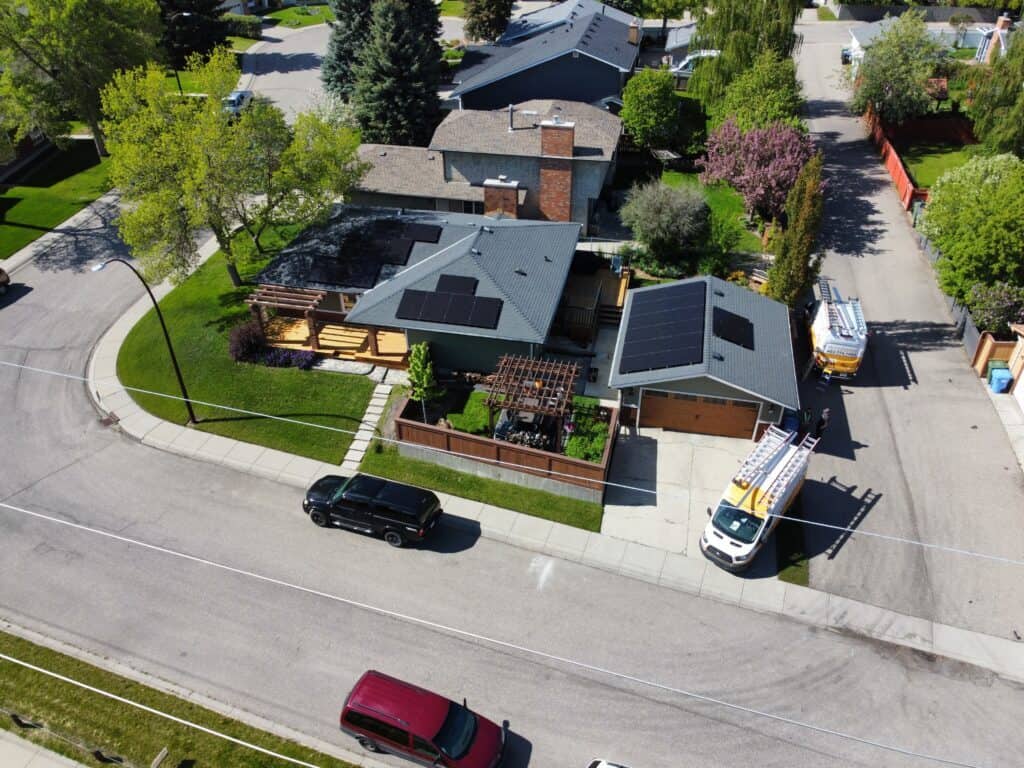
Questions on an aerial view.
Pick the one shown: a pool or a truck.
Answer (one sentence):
Of the two, only a truck appears.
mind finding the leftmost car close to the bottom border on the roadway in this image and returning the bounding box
[334,667,518,768]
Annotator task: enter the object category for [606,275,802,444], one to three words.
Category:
building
